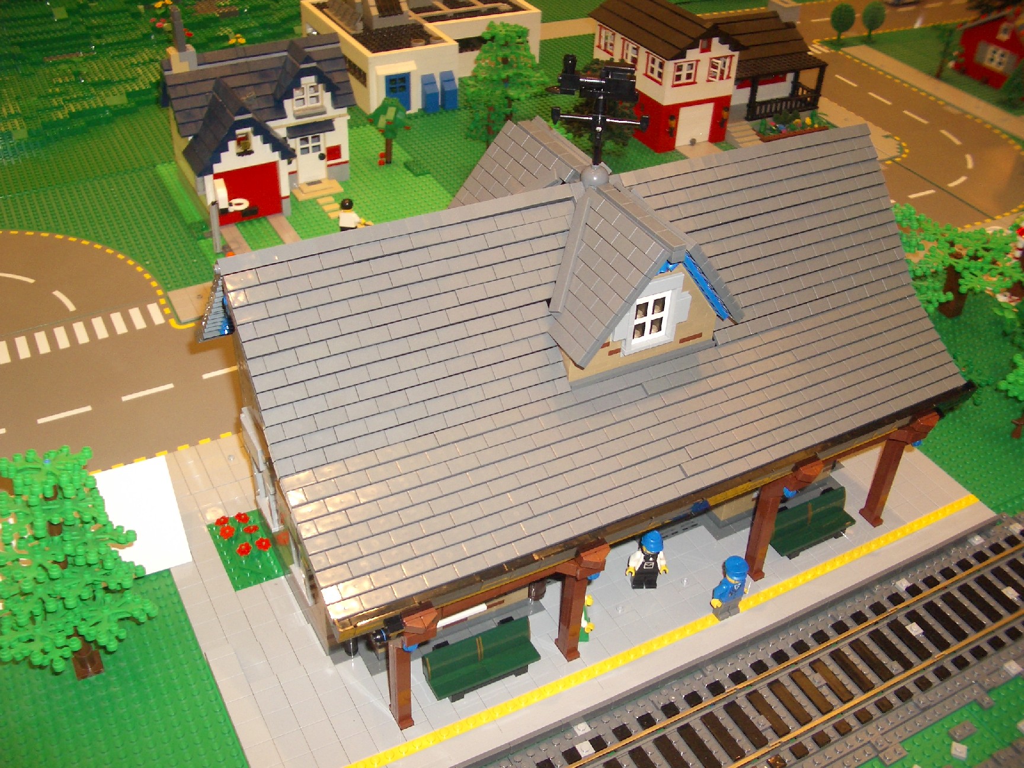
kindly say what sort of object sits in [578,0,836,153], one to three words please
house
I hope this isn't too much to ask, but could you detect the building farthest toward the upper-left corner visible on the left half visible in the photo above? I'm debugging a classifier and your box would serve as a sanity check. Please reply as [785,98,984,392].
[151,3,355,228]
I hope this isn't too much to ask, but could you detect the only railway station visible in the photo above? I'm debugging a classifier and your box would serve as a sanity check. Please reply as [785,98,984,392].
[197,124,965,730]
